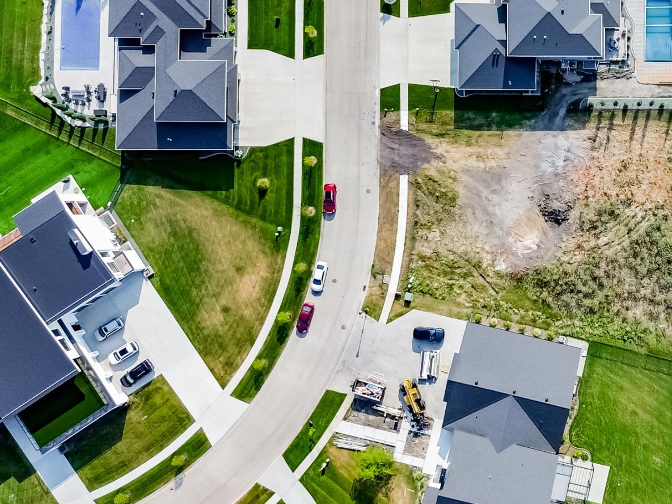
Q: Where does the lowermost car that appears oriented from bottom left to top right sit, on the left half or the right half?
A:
left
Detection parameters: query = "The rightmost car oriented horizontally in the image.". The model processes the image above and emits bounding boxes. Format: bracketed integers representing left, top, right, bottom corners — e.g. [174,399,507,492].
[413,328,445,343]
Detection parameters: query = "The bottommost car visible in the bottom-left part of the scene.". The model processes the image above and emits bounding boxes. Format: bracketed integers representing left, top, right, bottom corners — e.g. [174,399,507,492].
[123,361,154,384]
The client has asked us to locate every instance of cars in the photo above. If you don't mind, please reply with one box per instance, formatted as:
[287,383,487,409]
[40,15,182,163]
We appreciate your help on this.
[110,341,139,363]
[96,317,126,339]
[324,183,338,212]
[413,328,445,343]
[123,361,154,384]
[297,302,316,332]
[311,261,329,292]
